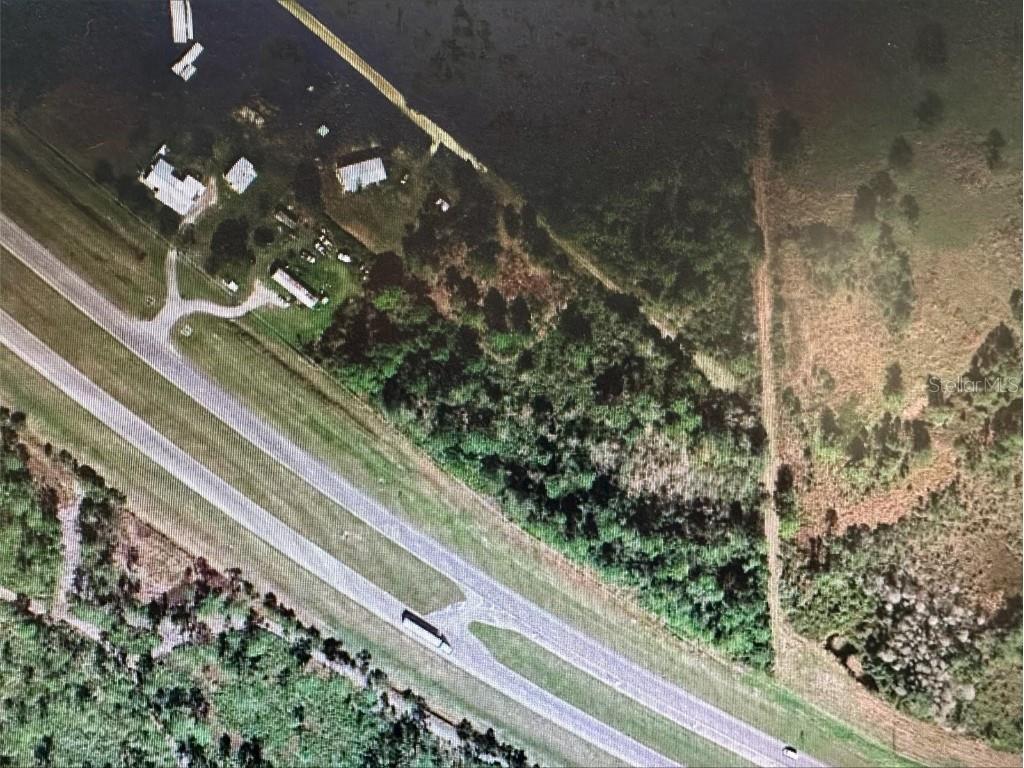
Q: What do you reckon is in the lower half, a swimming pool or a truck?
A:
truck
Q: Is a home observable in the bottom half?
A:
No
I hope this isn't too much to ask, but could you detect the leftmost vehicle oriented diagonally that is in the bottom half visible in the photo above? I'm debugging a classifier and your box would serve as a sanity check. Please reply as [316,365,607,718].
[400,617,453,655]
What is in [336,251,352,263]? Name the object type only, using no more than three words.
vehicle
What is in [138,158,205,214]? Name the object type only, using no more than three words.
house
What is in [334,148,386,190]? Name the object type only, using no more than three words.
barn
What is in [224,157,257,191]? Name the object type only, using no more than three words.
building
